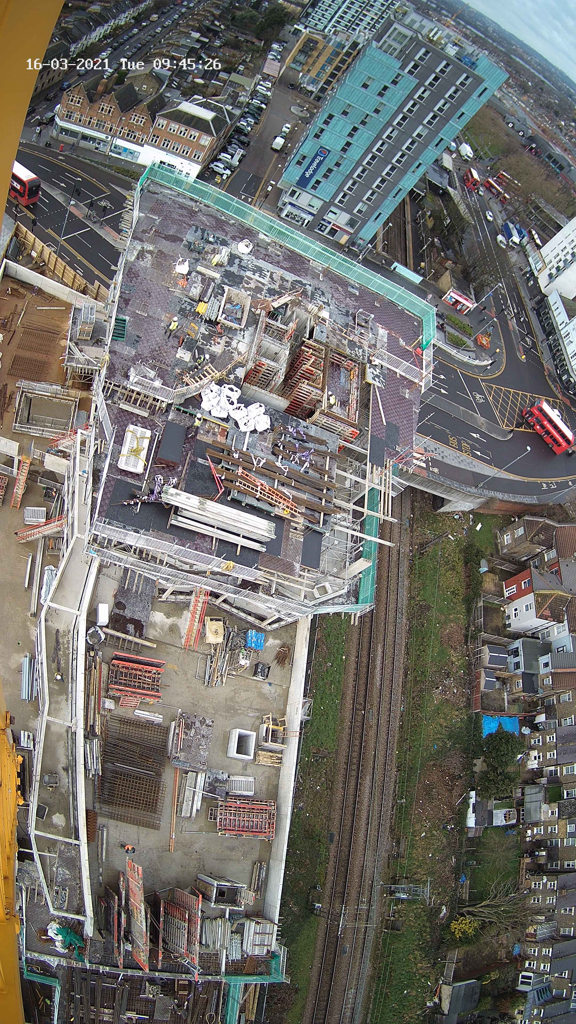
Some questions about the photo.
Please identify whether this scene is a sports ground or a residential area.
residential area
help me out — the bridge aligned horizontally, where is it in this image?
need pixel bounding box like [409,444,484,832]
[380,466,576,518]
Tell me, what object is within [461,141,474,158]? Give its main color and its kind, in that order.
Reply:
white vehicle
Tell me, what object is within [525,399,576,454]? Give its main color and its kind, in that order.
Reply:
red bus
